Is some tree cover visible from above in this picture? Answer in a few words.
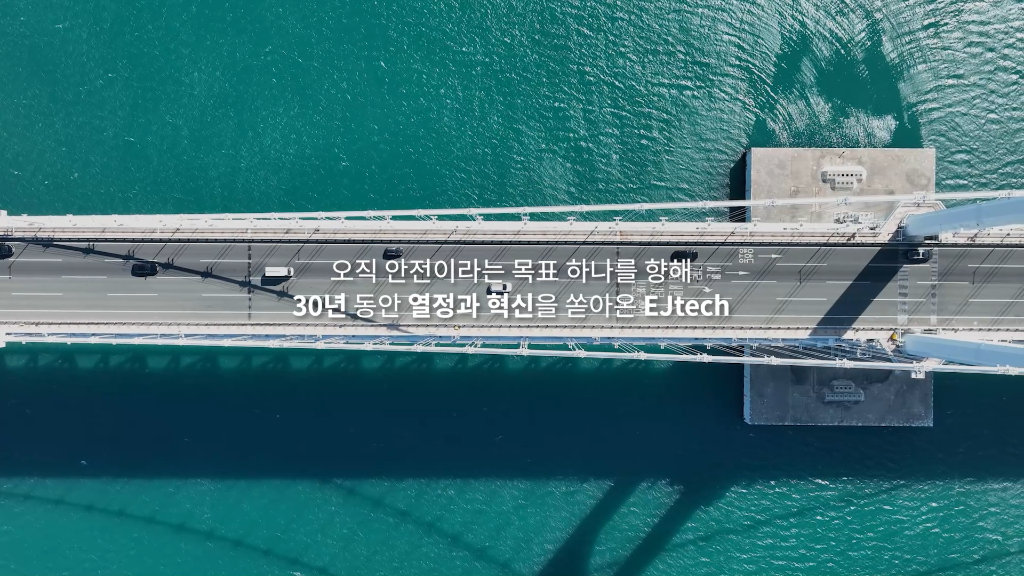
No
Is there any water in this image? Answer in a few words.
Yes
